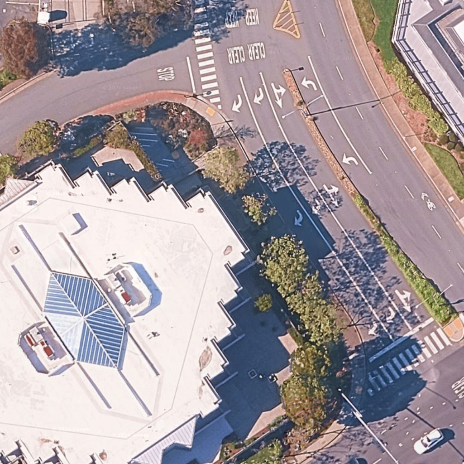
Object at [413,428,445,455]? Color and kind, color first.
white car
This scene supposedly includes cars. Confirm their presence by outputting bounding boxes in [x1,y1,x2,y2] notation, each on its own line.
[342,455,362,464]
[413,428,445,455]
